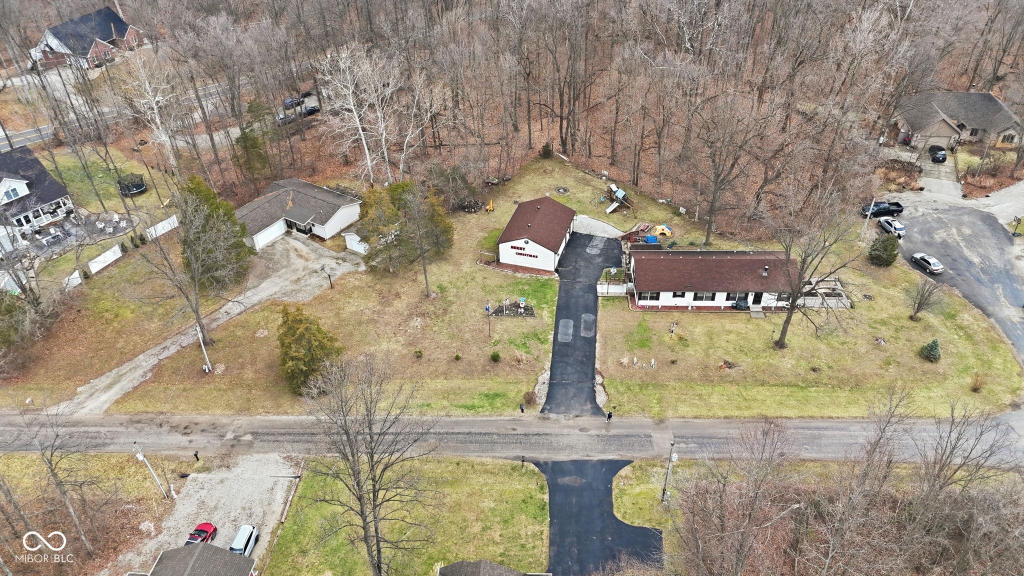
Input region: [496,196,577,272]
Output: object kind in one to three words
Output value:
building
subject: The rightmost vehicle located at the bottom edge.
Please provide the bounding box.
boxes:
[233,523,271,559]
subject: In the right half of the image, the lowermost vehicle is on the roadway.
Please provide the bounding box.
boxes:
[909,250,950,275]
